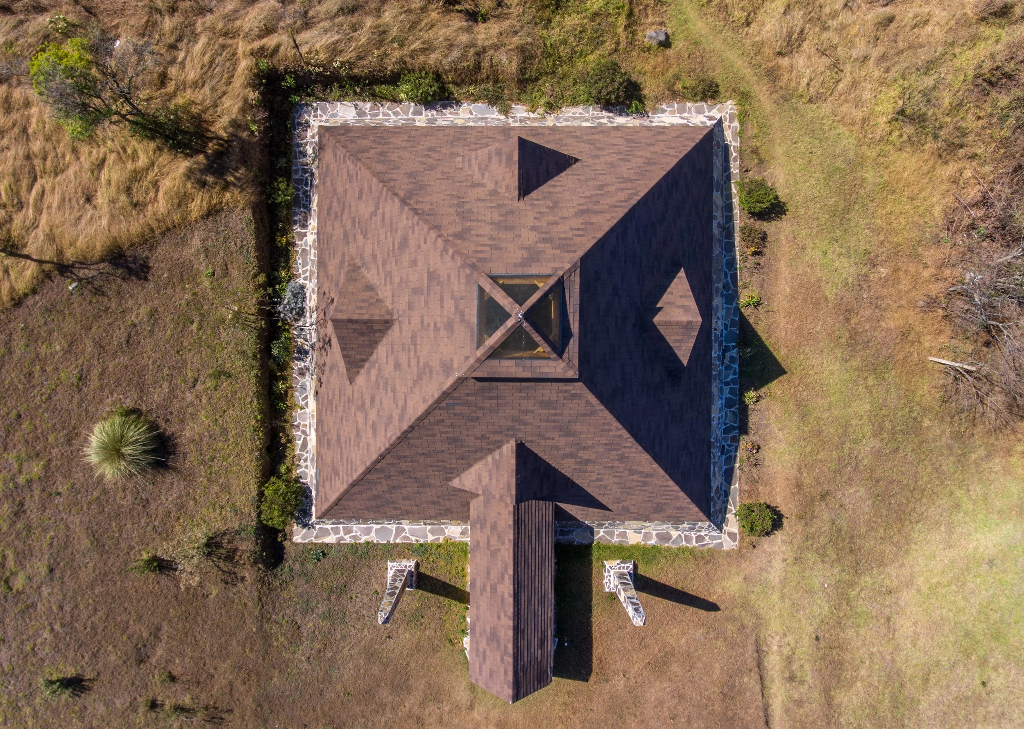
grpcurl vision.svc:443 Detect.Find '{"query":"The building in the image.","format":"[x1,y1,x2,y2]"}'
[309,116,724,704]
